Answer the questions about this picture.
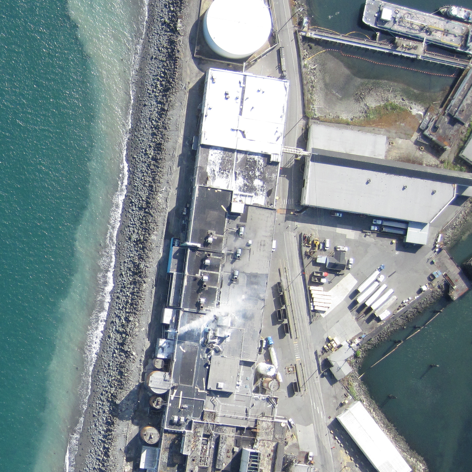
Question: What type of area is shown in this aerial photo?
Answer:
port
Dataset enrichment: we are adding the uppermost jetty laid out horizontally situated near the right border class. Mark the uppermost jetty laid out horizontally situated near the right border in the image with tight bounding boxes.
[300,27,469,70]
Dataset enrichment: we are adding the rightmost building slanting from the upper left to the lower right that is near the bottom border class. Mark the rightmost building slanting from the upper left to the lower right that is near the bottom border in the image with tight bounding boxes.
[337,401,412,472]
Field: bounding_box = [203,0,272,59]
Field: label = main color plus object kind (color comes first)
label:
white storage tank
